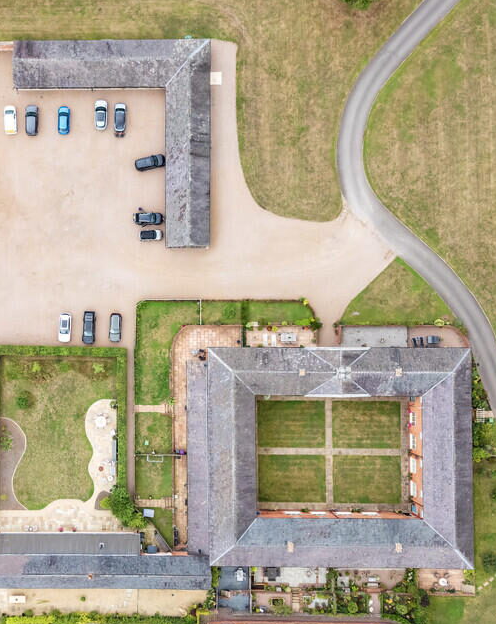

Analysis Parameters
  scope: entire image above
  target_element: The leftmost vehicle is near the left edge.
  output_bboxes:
[3,106,17,136]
